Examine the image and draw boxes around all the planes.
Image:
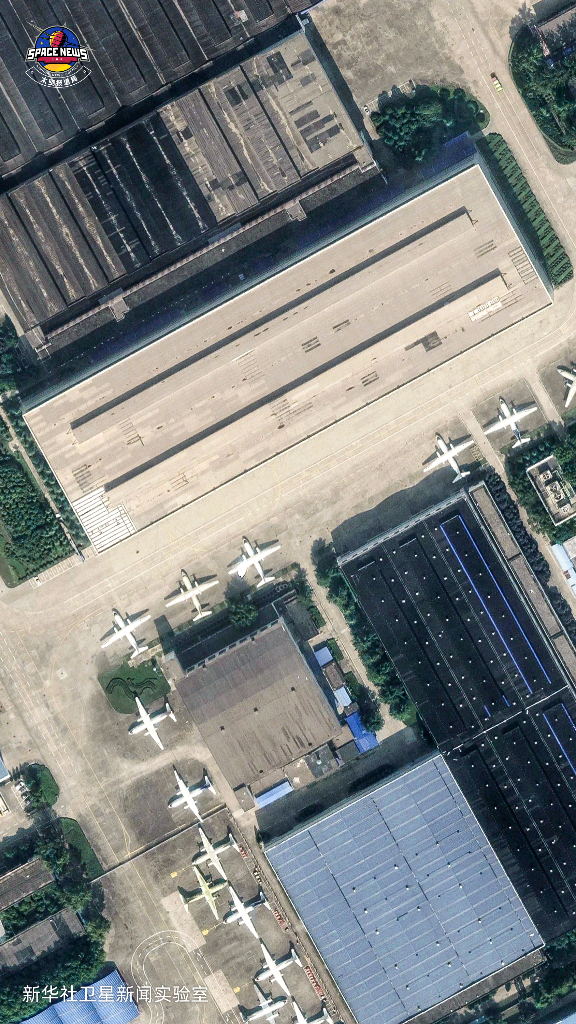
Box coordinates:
[130,699,176,748]
[241,982,287,1024]
[558,366,576,403]
[169,772,214,822]
[226,538,279,584]
[289,1001,331,1024]
[224,888,269,937]
[255,946,301,996]
[193,829,238,878]
[164,571,218,617]
[181,865,228,917]
[100,610,150,654]
[422,434,473,479]
[483,398,536,444]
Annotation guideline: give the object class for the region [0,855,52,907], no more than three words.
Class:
house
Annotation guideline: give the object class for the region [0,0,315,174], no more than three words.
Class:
building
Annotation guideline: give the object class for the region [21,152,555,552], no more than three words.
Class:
hangar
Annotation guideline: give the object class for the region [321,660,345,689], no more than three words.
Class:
shed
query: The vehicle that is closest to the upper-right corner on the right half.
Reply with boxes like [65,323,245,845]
[490,72,504,92]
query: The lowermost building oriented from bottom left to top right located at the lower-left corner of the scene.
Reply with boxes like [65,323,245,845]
[0,904,83,977]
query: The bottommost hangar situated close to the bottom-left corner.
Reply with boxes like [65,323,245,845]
[14,966,150,1024]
